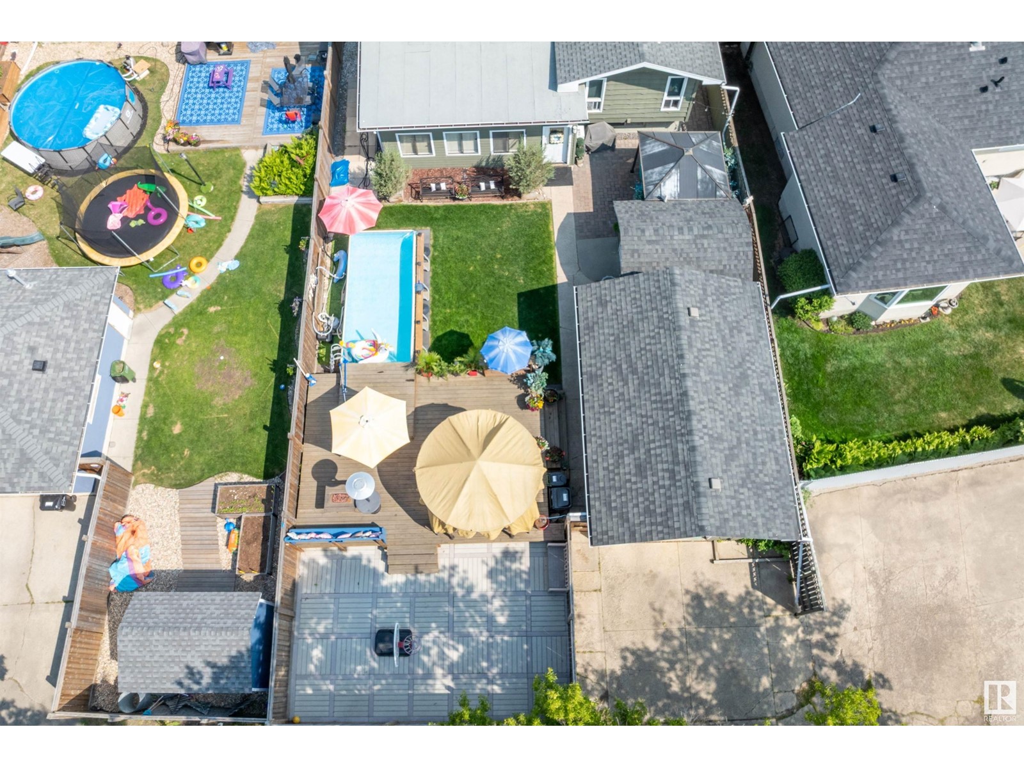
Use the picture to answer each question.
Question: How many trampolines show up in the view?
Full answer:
In total, there is 1 trampoline in the scene.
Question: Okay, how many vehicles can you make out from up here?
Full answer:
The count of vehicles is 0.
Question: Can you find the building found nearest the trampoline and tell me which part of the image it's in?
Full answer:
The building found nearest the trampoline is in the left part of the image.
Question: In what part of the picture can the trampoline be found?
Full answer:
The trampoline sits in the top left section of the image.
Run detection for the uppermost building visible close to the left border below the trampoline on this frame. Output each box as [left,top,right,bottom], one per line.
[0,264,143,498]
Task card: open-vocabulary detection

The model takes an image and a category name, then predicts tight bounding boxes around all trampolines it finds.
[51,141,199,276]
